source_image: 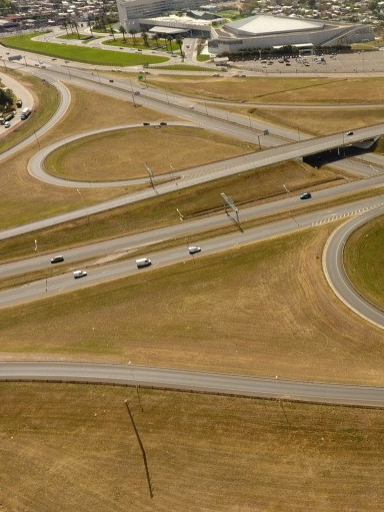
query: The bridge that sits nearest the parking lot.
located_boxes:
[281,124,384,163]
